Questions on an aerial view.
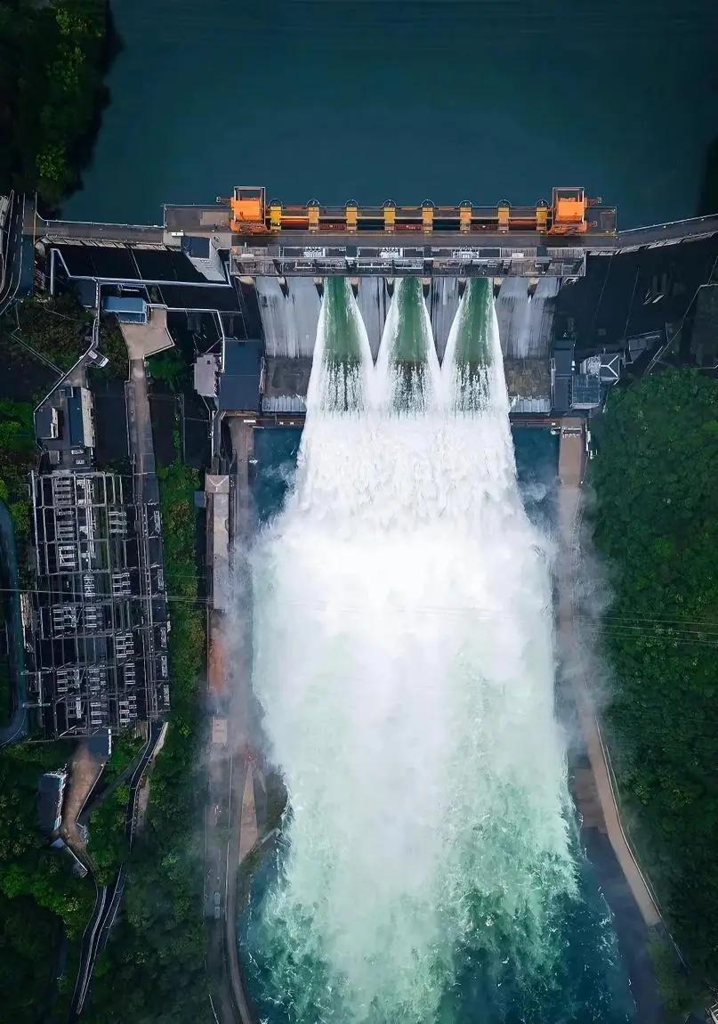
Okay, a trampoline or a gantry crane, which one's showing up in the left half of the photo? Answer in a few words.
gantry crane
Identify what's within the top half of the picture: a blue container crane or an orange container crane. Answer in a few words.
orange container crane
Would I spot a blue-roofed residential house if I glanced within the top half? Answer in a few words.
Yes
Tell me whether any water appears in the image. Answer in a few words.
Yes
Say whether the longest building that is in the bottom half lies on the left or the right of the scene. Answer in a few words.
left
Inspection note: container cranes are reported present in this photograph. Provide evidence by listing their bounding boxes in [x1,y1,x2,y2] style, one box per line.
[217,187,271,237]
[542,187,600,237]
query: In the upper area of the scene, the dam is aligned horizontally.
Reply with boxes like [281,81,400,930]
[33,205,718,415]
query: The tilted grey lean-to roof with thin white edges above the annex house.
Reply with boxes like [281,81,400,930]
[623,332,660,364]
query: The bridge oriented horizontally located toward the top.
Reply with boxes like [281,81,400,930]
[230,249,585,279]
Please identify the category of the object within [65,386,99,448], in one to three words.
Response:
building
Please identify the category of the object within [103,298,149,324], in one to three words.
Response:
house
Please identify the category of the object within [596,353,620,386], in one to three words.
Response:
house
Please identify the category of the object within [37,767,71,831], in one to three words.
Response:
building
